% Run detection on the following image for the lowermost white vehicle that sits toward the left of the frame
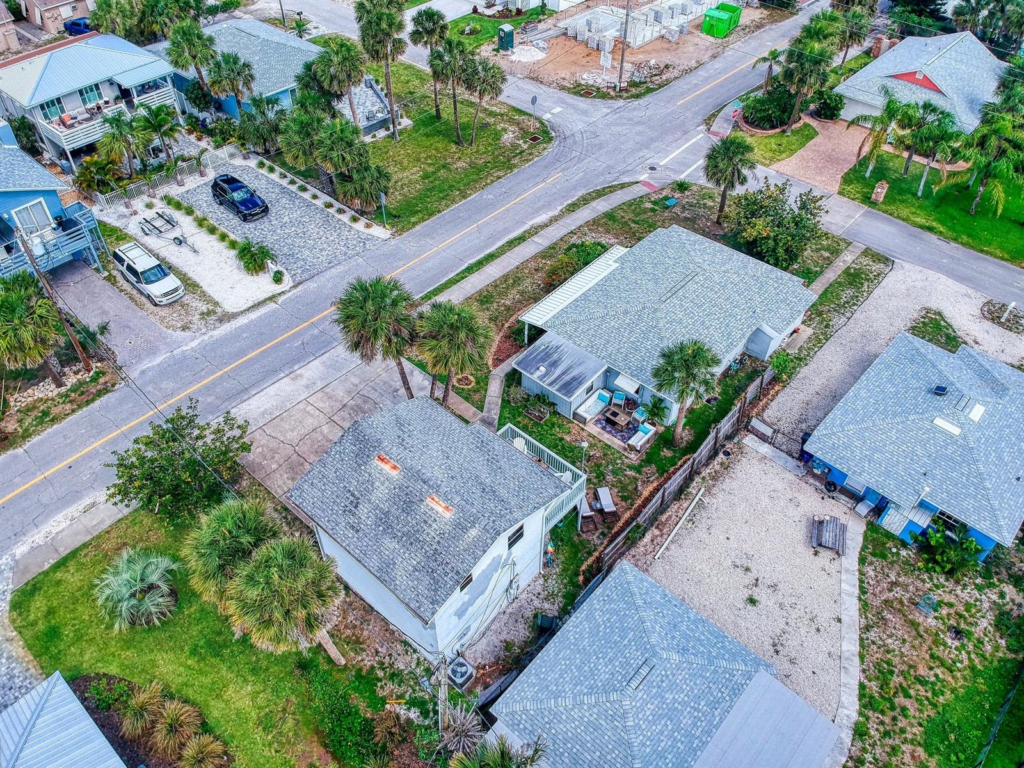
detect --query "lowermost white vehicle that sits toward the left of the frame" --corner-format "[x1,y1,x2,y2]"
[110,237,190,307]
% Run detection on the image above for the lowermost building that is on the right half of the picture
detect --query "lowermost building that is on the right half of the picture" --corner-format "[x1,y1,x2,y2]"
[488,561,872,768]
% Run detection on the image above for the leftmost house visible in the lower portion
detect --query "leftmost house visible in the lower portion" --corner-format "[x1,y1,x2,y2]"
[0,671,132,768]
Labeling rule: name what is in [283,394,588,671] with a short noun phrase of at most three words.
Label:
house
